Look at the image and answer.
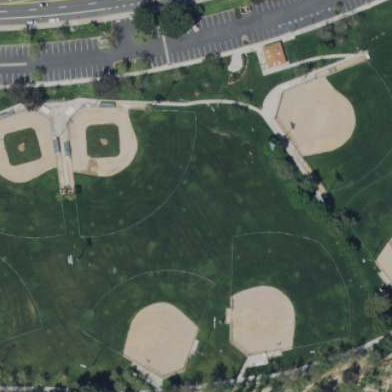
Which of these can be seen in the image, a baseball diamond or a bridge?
baseball diamond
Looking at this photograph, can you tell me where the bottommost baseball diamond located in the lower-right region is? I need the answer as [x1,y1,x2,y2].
[230,232,350,356]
